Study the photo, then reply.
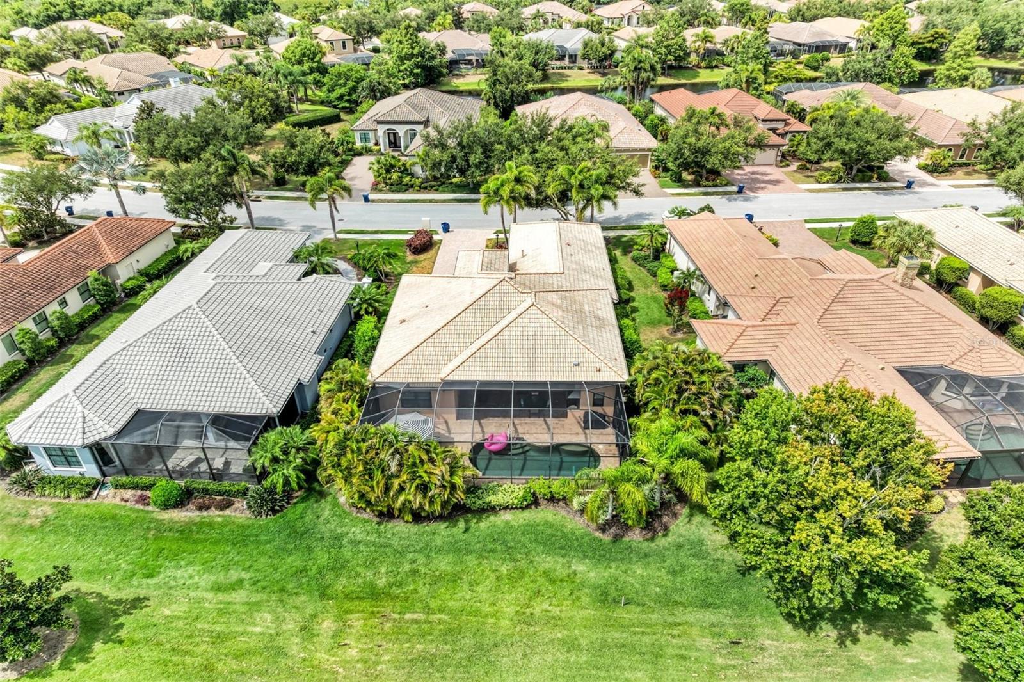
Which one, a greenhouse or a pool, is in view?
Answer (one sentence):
Of the two, only a pool appears.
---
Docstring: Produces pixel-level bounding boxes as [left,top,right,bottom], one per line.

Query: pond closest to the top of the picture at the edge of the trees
[359,68,1024,108]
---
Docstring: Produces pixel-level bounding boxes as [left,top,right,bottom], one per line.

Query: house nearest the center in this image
[368,220,629,412]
